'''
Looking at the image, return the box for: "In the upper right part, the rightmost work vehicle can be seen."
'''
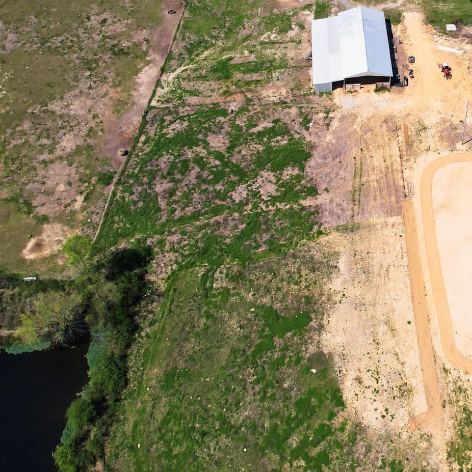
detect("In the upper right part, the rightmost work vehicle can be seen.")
[436,61,454,80]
